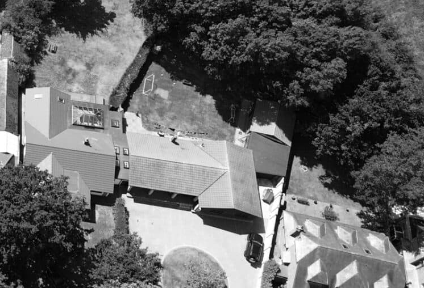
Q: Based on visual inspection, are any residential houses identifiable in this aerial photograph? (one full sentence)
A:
Yes, the frame does contain a residential house.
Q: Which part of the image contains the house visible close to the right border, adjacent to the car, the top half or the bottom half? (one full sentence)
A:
The bottom half of the photo is where the house visible close to the right border, adjacent to the car is.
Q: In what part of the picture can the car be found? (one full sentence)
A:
The car appears toward the bottom of the photo.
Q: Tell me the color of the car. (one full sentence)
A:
From above, the car appears black.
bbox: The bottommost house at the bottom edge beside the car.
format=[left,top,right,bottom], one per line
[274,210,406,288]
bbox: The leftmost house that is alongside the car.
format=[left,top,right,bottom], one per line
[124,131,262,221]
